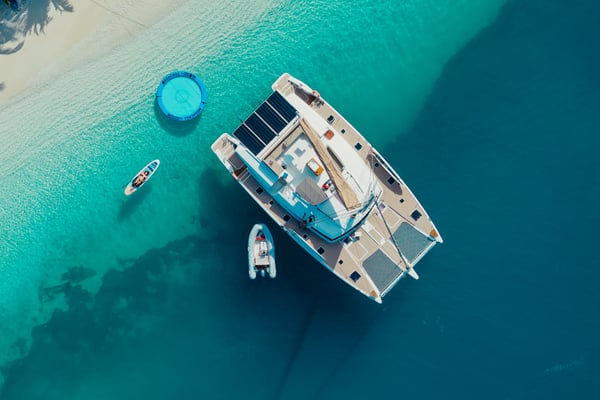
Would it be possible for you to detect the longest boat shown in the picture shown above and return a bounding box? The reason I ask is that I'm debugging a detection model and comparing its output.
[213,75,441,303]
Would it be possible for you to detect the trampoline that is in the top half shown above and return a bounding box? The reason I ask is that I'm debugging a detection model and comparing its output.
[154,71,208,124]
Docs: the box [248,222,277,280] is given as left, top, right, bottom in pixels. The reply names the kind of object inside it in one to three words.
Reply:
boat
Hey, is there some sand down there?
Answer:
Yes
